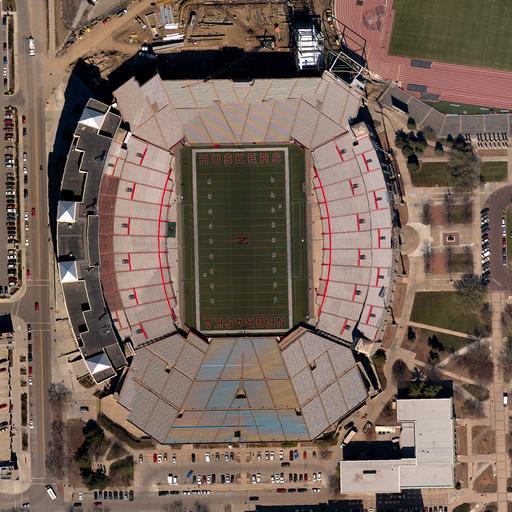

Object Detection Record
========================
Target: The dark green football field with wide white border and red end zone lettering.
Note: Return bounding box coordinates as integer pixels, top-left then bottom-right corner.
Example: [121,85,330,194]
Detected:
[166,142,322,340]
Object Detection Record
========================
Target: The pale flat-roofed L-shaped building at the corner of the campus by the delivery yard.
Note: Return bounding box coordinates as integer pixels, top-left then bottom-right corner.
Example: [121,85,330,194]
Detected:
[340,398,456,494]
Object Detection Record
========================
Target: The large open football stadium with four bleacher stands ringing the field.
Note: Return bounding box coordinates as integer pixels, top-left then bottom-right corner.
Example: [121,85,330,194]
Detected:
[100,70,402,444]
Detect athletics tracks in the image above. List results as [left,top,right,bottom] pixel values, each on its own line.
[334,0,512,106]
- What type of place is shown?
sports ground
